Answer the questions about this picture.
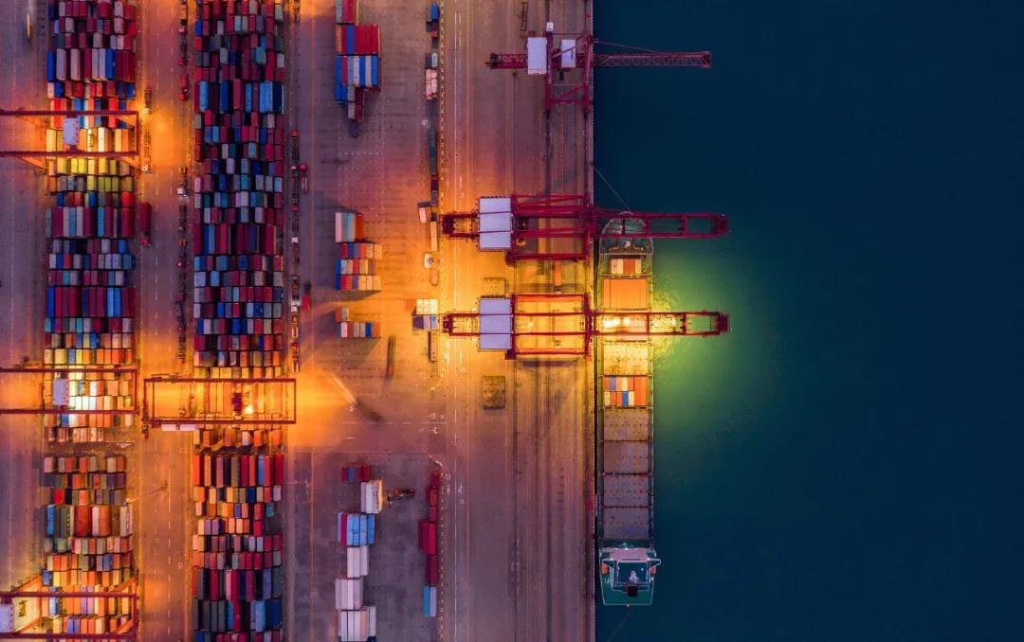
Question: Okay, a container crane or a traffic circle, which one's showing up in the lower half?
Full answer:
Looking in the lower half, you will find a container crane.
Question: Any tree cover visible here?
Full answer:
No, there is no tree cover in the image.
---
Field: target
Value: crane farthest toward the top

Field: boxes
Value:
[480,21,710,119]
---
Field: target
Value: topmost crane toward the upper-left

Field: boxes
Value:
[0,109,149,174]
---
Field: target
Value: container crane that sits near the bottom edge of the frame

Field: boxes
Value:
[0,570,146,640]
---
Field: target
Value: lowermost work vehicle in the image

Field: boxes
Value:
[385,487,414,505]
